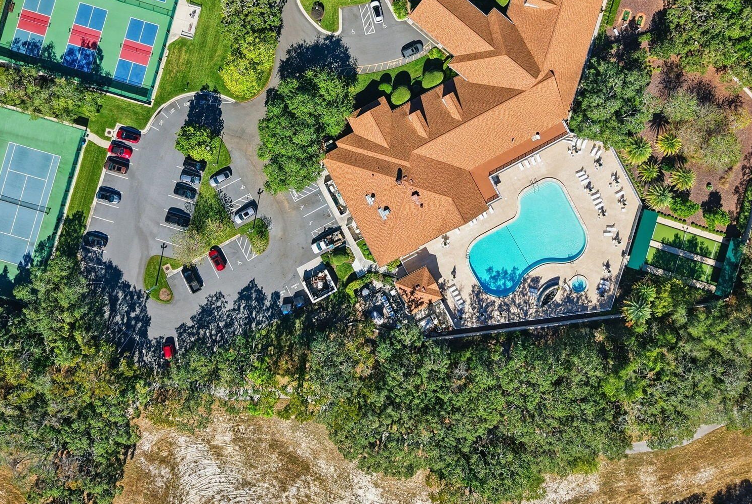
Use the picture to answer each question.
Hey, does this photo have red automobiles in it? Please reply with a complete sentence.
Yes, there is a red automobile in the image.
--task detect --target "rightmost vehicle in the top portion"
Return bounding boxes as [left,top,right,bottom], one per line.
[400,44,424,59]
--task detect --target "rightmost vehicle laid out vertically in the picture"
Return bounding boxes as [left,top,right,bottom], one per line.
[370,0,384,24]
